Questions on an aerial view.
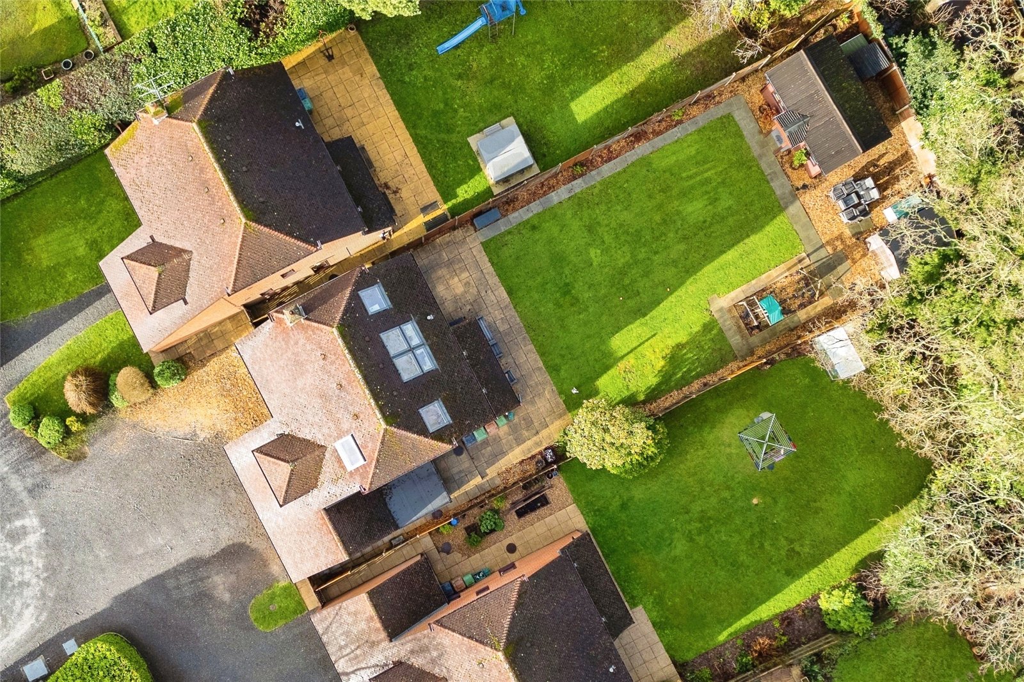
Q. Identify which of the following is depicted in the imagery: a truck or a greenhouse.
greenhouse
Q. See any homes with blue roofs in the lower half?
No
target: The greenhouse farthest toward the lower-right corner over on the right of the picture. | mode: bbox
[804,326,865,380]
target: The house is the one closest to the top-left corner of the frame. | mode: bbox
[98,61,399,353]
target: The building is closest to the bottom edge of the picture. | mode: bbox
[309,526,635,682]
